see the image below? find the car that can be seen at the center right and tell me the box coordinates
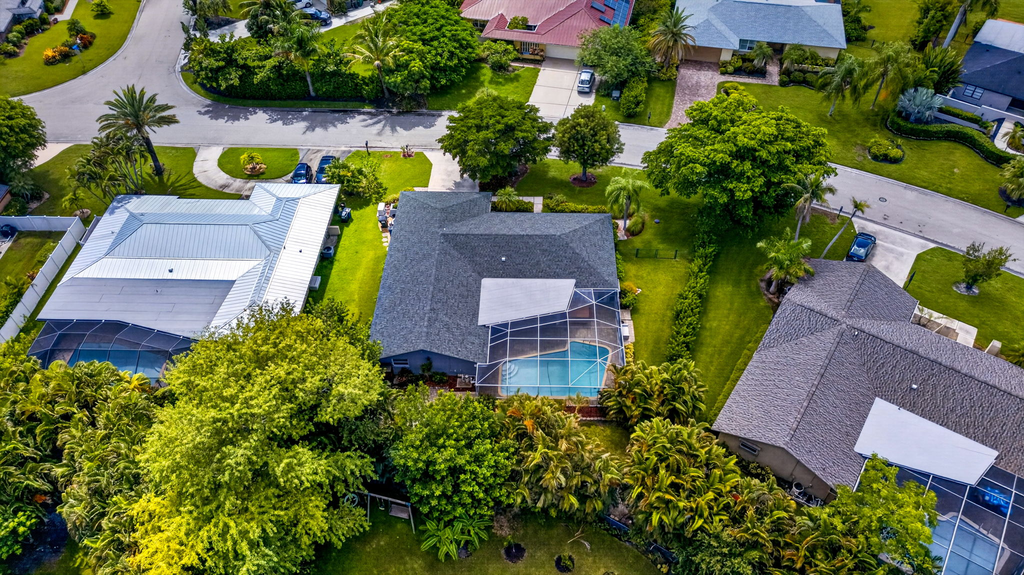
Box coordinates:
[846,229,877,263]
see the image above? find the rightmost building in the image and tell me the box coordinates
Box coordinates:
[956,18,1024,116]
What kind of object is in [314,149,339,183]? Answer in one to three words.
car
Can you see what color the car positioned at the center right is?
blue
